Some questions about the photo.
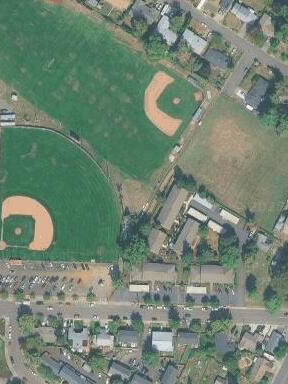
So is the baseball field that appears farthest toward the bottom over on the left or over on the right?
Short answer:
left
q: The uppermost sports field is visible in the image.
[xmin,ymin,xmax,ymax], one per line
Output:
[0,0,207,187]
